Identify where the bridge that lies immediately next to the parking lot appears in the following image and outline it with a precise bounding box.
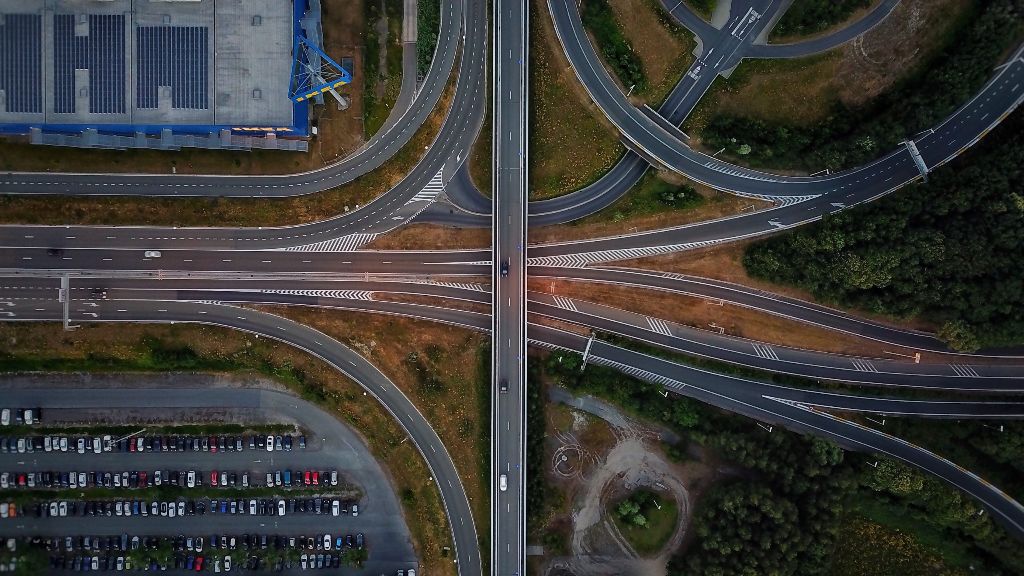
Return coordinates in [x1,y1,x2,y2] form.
[491,0,528,576]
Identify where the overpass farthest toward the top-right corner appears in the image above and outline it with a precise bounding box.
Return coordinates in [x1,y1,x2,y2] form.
[618,104,691,170]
